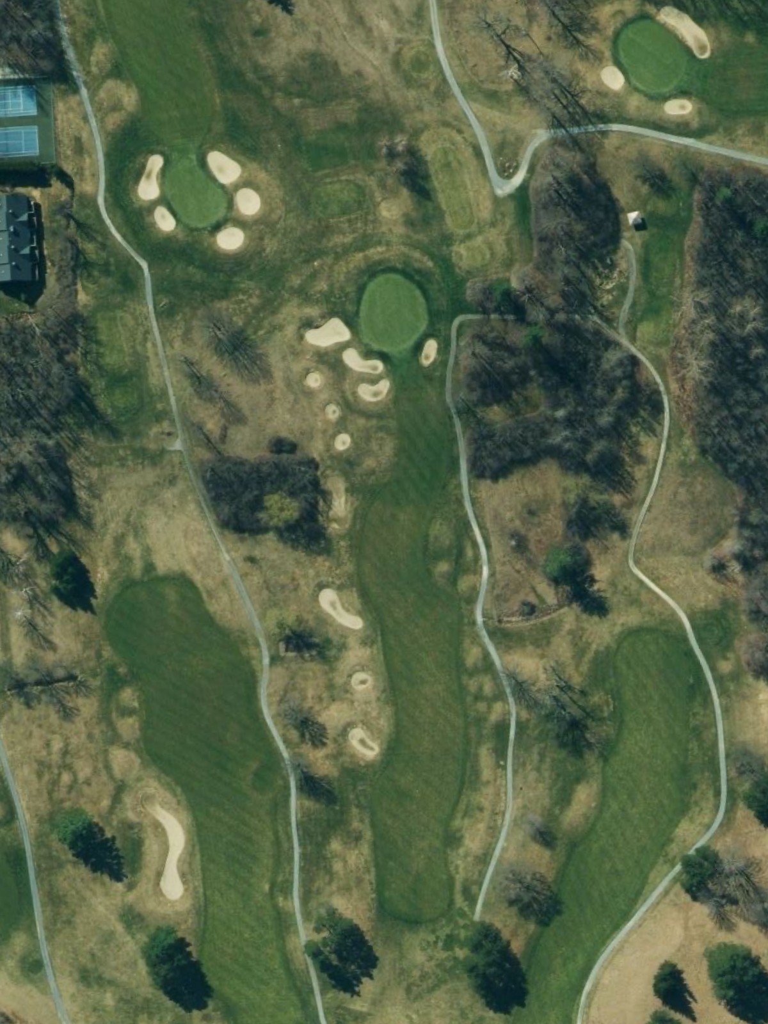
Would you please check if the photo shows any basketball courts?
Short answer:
No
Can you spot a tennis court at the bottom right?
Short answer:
No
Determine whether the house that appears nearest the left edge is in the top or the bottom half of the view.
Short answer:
top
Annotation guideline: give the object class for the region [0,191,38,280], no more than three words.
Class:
house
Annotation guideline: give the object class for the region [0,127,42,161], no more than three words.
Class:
tennis court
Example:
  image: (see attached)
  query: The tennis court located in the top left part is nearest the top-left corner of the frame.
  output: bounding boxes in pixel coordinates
[0,89,39,122]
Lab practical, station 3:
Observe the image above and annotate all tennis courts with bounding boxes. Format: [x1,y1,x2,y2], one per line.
[0,127,42,161]
[0,89,39,122]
